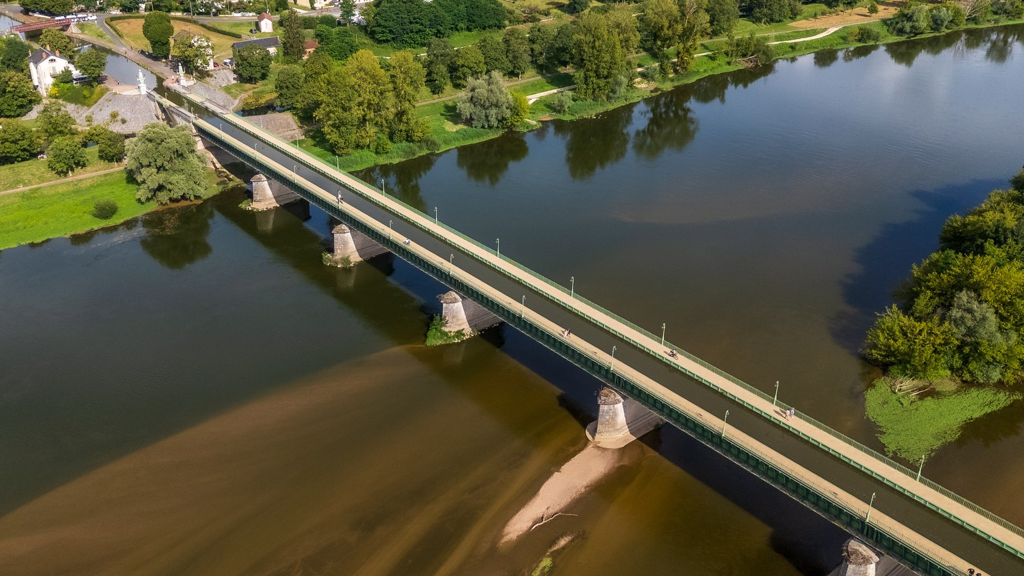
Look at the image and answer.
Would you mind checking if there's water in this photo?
Yes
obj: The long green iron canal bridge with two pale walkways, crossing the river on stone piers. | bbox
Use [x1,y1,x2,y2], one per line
[153,88,1024,576]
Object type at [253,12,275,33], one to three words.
building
